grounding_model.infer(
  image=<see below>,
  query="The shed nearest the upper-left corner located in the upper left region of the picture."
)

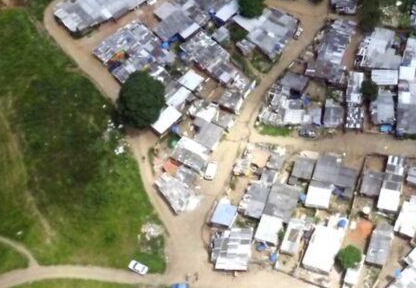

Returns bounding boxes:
[58,0,110,42]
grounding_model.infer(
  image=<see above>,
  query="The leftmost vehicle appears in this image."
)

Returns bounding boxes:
[126,258,147,274]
